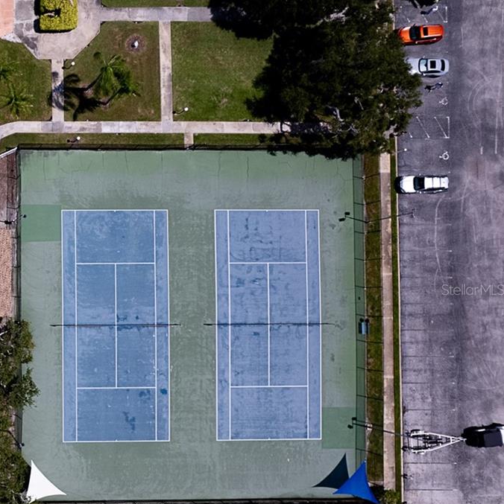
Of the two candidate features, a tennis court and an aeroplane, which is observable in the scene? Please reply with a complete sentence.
The image shows a tennis court.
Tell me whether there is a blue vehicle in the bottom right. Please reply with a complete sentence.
No, no blue vehicle appears in the bottom right.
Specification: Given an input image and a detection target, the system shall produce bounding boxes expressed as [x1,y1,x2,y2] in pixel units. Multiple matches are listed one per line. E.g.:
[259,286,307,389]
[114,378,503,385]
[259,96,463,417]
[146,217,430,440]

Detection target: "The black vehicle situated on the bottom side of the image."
[464,426,504,447]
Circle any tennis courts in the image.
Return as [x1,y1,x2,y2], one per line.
[205,210,336,441]
[51,210,183,443]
